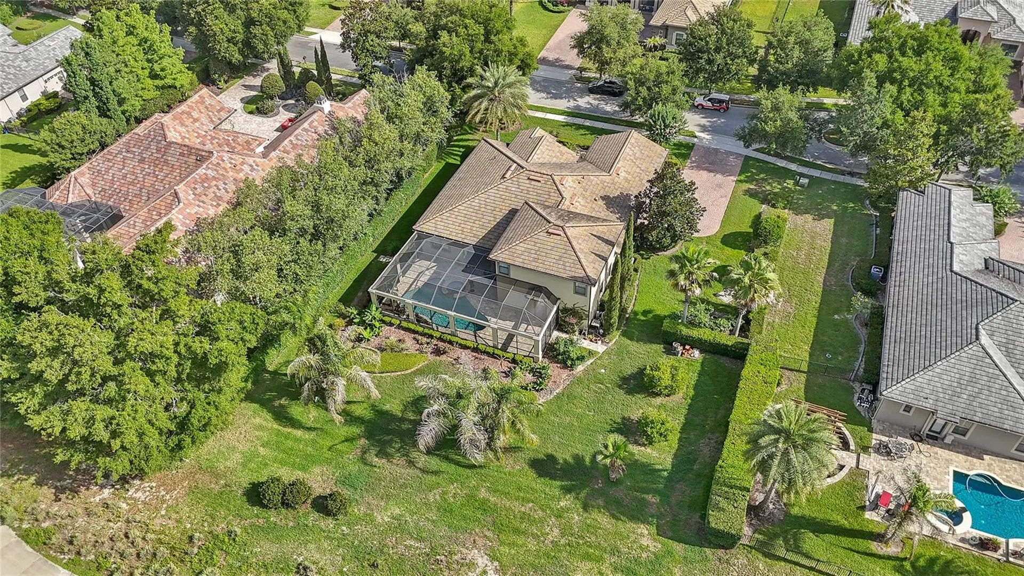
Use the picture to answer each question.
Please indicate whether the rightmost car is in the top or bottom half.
top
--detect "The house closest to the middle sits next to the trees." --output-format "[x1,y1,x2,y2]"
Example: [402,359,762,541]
[412,126,670,328]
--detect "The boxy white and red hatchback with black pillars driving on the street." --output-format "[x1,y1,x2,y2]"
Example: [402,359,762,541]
[695,92,732,112]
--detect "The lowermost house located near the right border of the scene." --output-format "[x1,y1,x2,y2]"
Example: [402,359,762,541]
[872,177,1024,459]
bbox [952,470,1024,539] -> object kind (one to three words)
swimming pool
